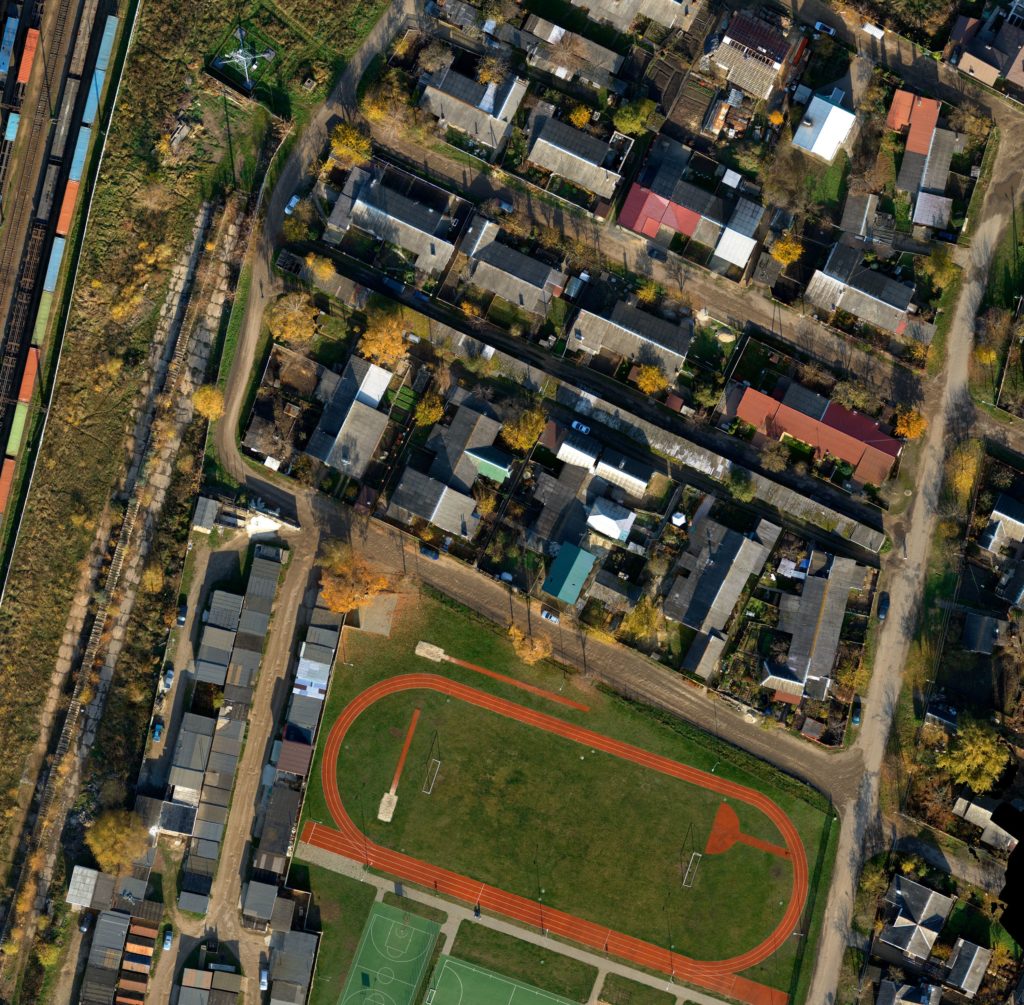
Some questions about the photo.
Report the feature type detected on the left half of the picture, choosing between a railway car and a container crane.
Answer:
railway car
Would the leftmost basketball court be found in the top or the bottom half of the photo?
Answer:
bottom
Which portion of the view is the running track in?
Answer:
bottom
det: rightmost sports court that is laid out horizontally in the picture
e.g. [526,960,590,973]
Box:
[424,955,580,1005]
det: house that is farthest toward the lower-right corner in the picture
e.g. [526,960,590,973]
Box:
[946,939,991,993]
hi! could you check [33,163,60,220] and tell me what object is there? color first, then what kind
gray rail car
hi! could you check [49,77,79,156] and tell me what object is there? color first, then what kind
gray rail car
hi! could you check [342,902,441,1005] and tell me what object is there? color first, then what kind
green basketball court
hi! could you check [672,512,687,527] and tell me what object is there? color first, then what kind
white gazebo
